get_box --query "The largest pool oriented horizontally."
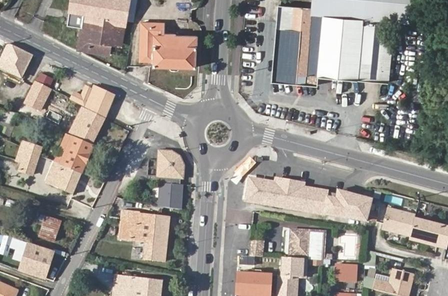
[382,194,404,207]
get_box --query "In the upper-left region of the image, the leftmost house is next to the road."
[0,44,32,82]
